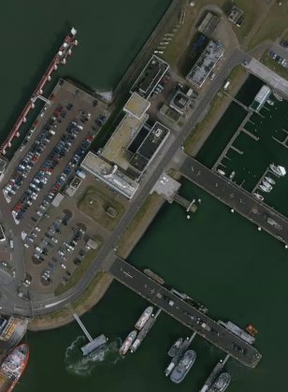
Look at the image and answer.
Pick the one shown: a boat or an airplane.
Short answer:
boat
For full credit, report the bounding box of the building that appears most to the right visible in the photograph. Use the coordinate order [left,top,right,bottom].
[249,85,272,112]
